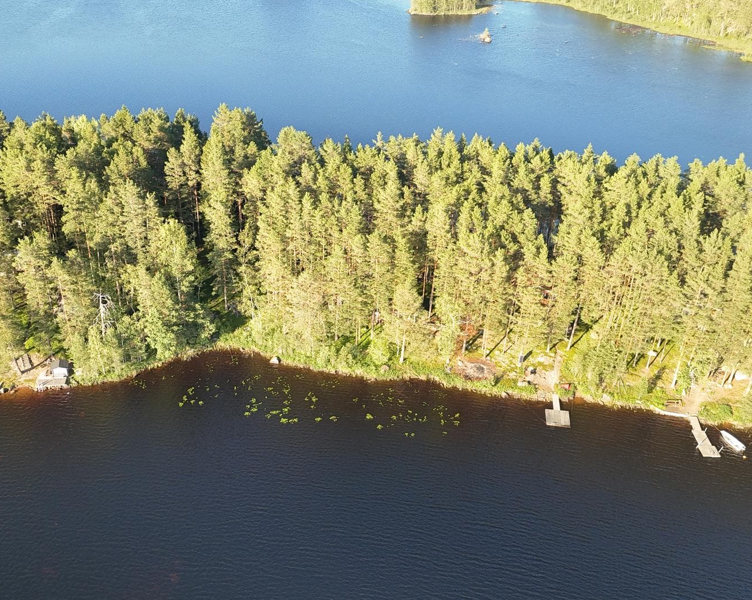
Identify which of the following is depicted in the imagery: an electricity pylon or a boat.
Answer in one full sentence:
Visible in the photo is a boat.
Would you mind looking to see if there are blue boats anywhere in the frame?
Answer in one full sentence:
No, there's no blue boat here.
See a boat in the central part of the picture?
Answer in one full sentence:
No, I can find no boat in the central part of the picture.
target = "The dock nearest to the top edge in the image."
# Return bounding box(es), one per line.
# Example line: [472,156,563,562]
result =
[546,394,570,430]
